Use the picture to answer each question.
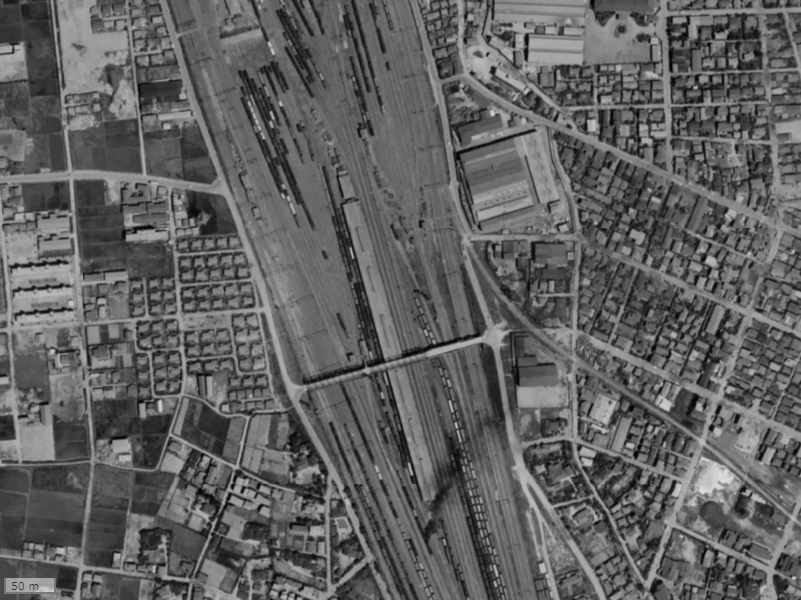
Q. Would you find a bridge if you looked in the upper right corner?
No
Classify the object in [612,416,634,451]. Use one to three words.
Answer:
shed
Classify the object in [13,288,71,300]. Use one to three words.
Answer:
building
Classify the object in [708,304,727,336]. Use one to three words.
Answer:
shed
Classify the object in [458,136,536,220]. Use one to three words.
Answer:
building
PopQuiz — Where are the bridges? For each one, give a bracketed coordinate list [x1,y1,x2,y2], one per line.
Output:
[301,334,487,391]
